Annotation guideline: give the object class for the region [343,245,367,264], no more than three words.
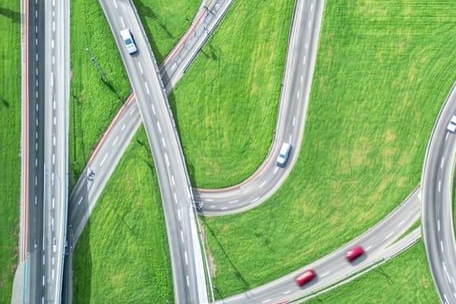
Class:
car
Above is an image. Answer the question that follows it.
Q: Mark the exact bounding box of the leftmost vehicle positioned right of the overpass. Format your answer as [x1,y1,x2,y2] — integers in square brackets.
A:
[275,142,293,167]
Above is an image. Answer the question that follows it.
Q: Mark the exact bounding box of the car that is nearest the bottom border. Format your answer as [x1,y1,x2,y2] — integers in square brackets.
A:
[293,267,319,286]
